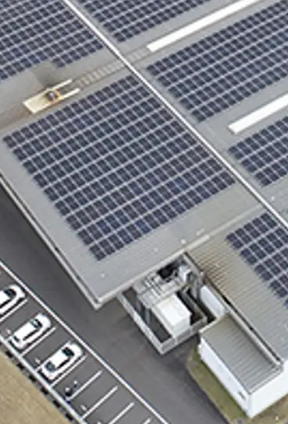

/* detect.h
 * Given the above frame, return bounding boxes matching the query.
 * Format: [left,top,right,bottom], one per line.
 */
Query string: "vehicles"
[13,316,52,349]
[0,285,27,318]
[41,342,86,379]
[61,378,80,393]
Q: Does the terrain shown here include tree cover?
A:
No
